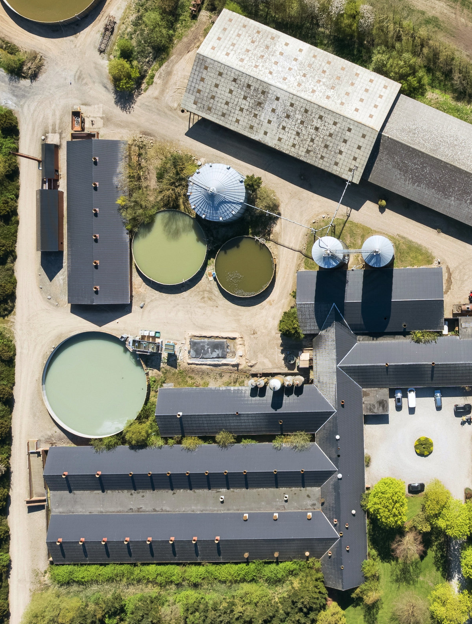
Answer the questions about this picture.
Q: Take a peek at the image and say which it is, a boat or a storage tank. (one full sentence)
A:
It is a storage tank that can be seen here.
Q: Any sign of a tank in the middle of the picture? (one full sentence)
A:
Yes, I can see a tank in the middle of the picture.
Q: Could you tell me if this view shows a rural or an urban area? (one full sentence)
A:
The land in this view is best described as urban.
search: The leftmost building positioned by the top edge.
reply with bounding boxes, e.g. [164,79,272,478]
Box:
[182,8,401,183]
